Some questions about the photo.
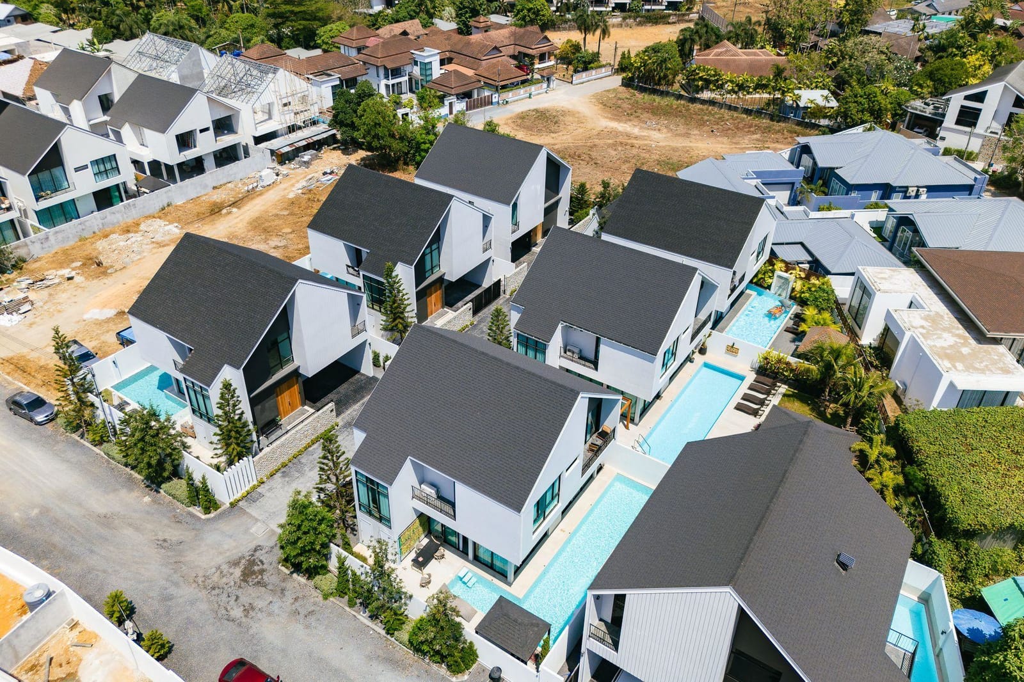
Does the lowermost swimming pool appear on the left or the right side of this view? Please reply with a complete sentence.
The lowermost swimming pool sits on the right side.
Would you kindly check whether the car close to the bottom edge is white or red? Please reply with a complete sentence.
The color of the car close to the bottom edge is red.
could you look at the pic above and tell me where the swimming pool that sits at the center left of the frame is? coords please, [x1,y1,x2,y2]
[108,365,194,429]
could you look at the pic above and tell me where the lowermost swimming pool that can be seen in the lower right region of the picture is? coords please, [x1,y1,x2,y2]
[890,593,943,682]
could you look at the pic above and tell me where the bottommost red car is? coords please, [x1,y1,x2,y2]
[215,656,278,682]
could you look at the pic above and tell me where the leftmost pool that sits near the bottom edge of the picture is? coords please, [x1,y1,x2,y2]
[441,472,653,659]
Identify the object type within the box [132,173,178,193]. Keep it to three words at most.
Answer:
gazebo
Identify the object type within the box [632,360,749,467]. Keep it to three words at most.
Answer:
swimming pool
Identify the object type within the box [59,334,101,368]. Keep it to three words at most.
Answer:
truck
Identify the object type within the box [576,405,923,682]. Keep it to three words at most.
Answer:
house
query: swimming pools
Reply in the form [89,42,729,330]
[723,292,797,347]
[632,360,749,467]
[890,593,943,682]
[108,365,194,429]
[441,472,653,659]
